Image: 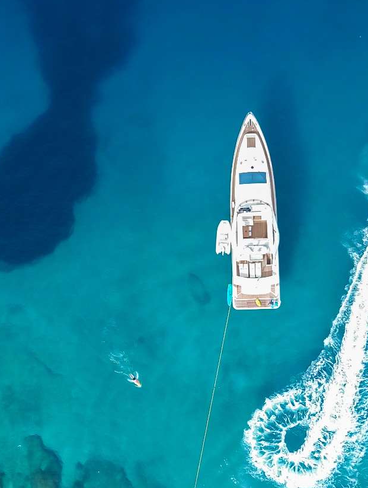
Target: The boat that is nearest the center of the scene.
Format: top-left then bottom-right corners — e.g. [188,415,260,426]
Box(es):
[216,220,231,256]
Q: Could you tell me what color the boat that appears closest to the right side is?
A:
white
